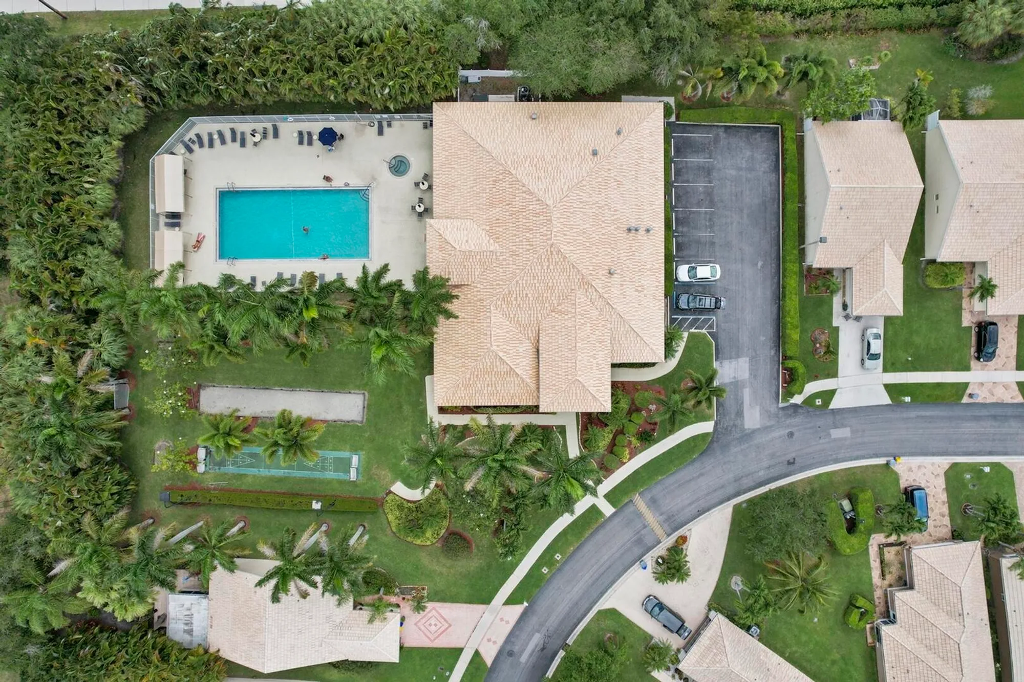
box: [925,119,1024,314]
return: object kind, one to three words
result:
house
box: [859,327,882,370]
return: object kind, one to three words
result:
car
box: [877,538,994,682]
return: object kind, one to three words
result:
house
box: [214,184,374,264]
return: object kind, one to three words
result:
swimming pool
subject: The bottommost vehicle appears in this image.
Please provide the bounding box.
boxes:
[643,594,693,642]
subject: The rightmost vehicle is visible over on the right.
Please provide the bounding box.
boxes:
[973,322,998,362]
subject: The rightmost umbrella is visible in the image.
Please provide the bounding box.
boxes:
[320,128,337,145]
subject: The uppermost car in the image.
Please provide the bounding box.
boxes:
[675,263,720,283]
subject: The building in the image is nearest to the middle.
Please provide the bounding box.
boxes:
[425,100,665,413]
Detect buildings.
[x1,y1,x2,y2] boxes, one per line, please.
[877,538,994,682]
[986,549,1024,682]
[805,120,926,316]
[209,560,401,673]
[678,612,818,682]
[925,119,1024,314]
[425,100,665,413]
